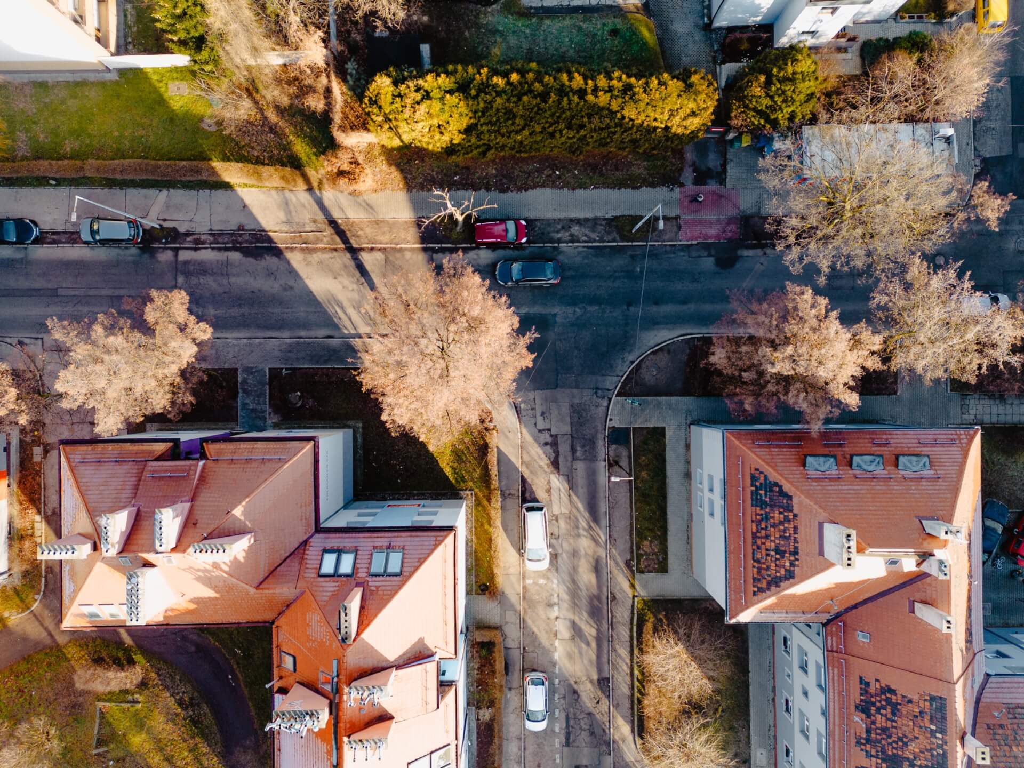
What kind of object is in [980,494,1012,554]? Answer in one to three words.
car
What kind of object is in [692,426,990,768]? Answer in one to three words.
house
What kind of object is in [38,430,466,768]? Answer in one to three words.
house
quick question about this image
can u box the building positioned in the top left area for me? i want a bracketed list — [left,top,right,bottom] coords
[0,0,118,70]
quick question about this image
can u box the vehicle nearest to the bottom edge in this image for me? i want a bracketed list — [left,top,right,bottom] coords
[522,669,550,728]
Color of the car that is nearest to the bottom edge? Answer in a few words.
white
